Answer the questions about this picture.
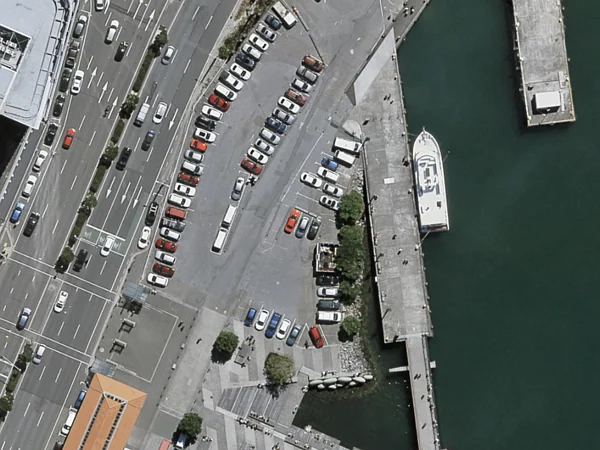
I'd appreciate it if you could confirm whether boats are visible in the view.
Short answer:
Yes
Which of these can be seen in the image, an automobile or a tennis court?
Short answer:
automobile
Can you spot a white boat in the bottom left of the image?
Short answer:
No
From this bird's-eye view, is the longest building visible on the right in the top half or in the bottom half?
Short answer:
top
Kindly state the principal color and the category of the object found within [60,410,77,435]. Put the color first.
white vehicle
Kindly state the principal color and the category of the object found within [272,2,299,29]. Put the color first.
white truck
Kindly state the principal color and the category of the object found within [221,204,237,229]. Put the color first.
white vehicle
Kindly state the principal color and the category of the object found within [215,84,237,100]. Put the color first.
white car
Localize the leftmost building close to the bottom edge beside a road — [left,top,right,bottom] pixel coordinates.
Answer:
[64,373,147,450]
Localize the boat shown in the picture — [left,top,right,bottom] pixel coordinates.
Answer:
[413,126,449,232]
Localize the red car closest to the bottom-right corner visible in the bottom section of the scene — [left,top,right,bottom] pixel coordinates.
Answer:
[309,326,323,347]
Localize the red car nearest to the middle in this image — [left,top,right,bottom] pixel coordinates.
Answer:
[285,208,300,231]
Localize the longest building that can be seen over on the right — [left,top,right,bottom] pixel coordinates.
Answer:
[345,28,395,106]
